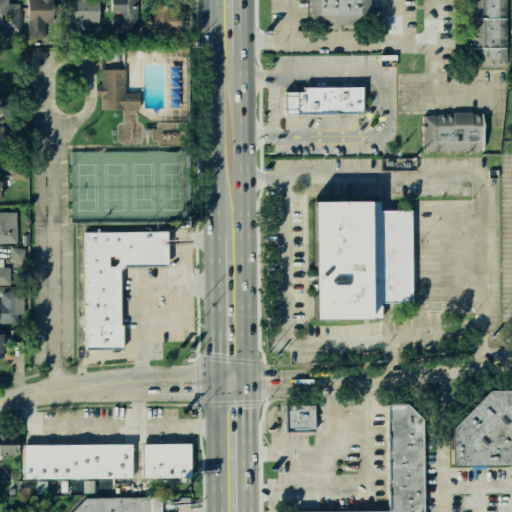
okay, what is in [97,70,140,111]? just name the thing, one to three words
house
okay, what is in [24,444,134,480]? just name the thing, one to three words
building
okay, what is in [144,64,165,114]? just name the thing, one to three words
swimming pool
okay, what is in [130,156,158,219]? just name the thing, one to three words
tennis court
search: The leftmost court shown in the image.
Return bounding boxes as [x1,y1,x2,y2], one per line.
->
[74,156,101,219]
